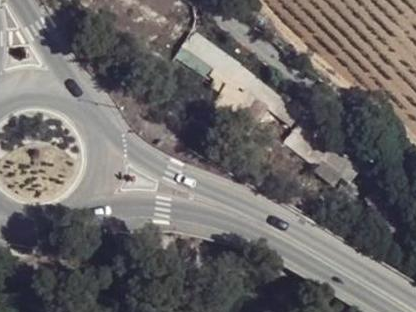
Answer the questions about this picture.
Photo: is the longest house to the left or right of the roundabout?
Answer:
to the right of it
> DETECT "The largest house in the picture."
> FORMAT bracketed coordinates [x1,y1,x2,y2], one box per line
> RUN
[175,32,294,126]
